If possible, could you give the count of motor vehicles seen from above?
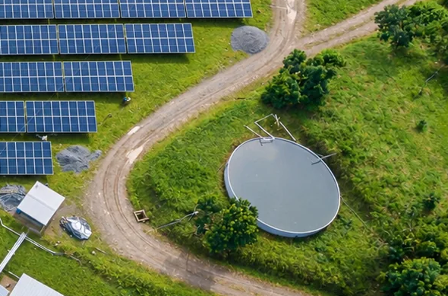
0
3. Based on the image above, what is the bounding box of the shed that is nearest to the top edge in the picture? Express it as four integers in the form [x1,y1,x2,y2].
[15,182,65,240]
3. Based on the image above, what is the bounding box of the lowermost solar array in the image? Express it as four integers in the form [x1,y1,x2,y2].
[0,143,52,175]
